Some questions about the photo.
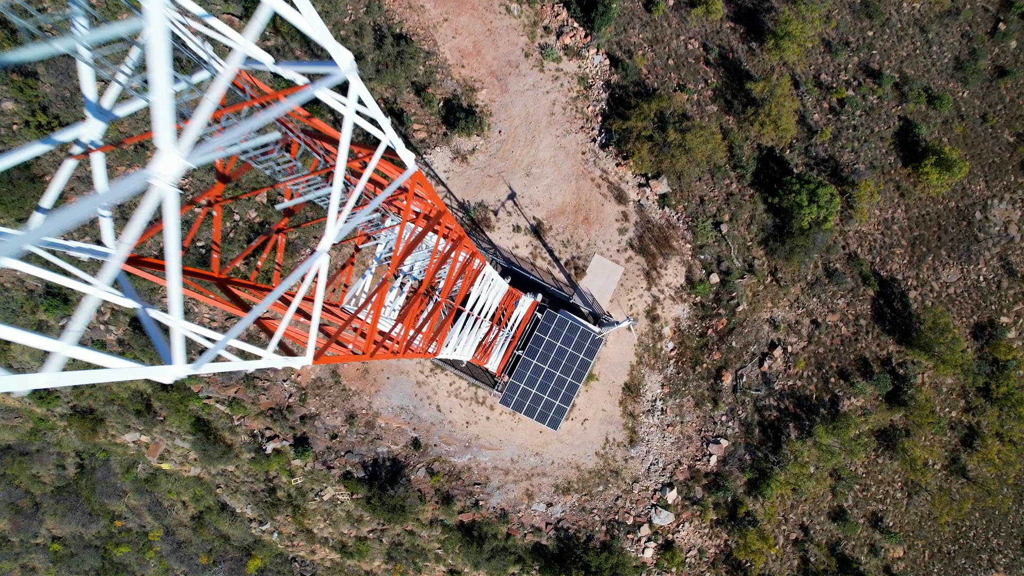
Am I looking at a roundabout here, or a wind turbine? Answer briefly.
wind turbine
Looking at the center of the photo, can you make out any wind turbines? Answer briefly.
Yes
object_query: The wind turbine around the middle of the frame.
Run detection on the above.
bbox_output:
[596,300,642,338]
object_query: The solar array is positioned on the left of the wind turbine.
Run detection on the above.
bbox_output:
[499,307,604,431]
